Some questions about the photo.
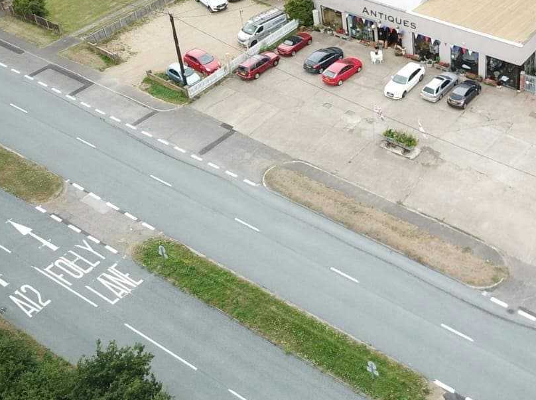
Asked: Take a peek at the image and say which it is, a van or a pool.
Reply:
van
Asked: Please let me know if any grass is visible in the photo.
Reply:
Yes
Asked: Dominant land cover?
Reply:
paved ground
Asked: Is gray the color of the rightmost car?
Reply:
Yes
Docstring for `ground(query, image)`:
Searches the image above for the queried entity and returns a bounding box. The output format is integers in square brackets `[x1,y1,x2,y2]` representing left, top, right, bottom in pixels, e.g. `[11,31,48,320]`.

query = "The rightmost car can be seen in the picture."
[443,78,481,110]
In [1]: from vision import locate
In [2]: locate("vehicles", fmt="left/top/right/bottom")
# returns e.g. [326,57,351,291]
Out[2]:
[180,46,220,74]
[300,44,343,74]
[273,30,313,57]
[320,57,363,86]
[420,69,459,101]
[236,50,282,81]
[198,0,229,12]
[443,78,481,110]
[386,63,425,97]
[238,6,283,44]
